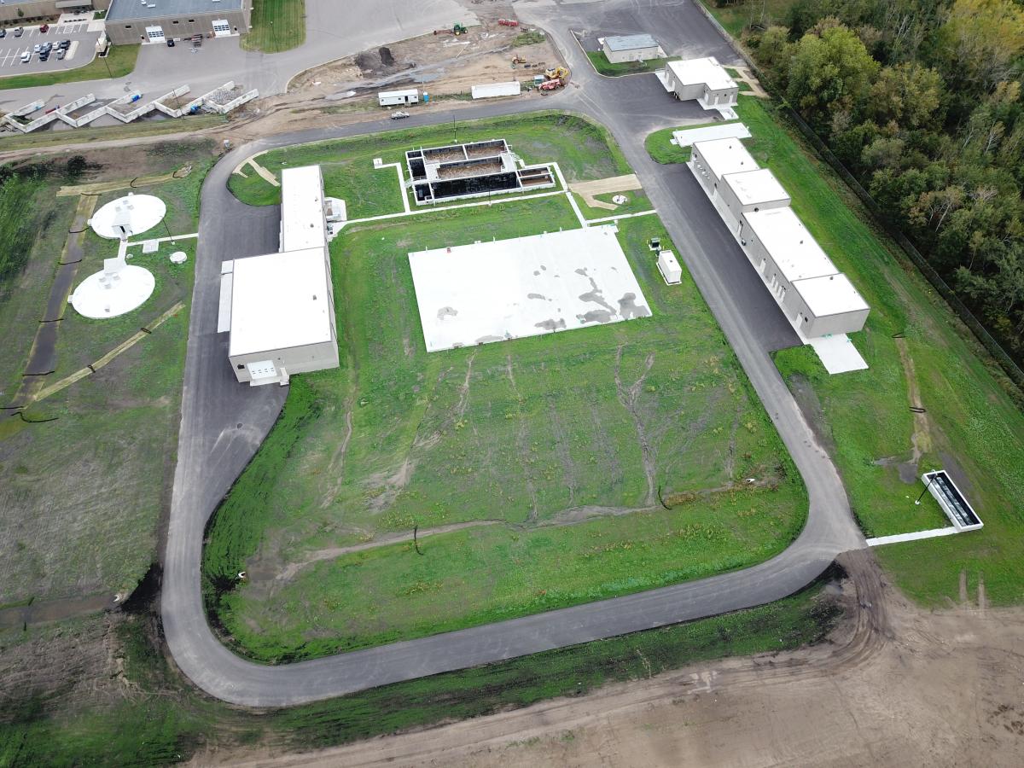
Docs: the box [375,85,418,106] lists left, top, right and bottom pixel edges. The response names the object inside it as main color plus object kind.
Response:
white trailer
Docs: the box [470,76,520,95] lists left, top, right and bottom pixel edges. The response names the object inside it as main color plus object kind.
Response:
white trailer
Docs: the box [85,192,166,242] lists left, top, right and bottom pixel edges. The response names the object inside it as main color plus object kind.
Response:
white storage tank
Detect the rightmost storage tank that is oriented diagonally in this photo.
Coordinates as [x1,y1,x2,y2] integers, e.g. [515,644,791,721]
[921,469,982,534]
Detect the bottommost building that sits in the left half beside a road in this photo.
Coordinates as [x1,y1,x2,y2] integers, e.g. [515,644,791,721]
[217,165,339,387]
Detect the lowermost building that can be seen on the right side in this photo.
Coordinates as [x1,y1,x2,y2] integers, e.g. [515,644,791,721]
[690,137,870,337]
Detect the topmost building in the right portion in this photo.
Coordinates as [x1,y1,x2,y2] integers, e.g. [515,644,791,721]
[603,32,660,63]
